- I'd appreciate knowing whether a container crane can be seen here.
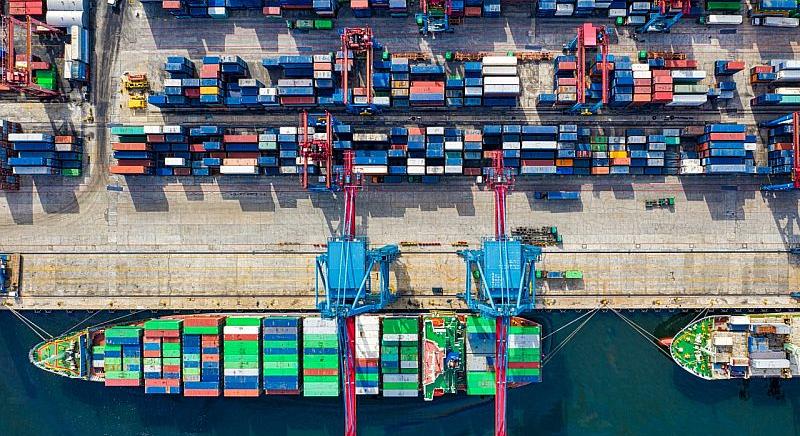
Yes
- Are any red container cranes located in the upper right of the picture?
Yes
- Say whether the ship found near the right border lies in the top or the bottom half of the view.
bottom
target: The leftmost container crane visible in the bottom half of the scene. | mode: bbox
[314,145,402,436]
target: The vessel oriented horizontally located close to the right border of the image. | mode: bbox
[659,311,800,381]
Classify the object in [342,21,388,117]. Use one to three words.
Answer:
container crane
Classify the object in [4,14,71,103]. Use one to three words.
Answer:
container crane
